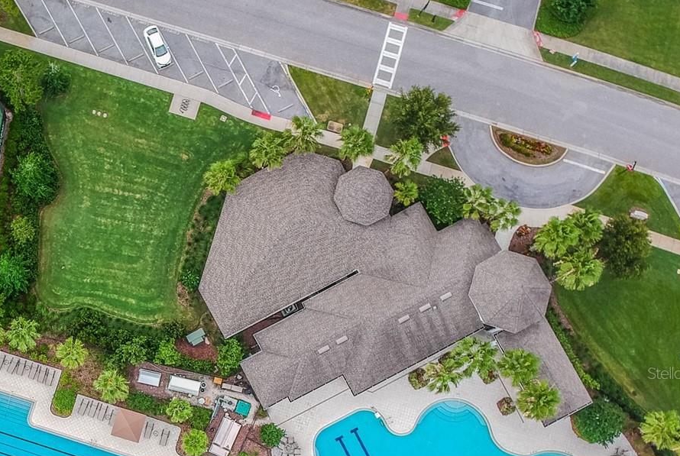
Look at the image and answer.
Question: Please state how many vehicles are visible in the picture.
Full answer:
I count just 1 vehicle.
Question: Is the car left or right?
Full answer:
The car appears in the left half of the scene.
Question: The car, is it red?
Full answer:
No, the car is actually white.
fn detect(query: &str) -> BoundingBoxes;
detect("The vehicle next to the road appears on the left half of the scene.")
[142,21,173,70]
